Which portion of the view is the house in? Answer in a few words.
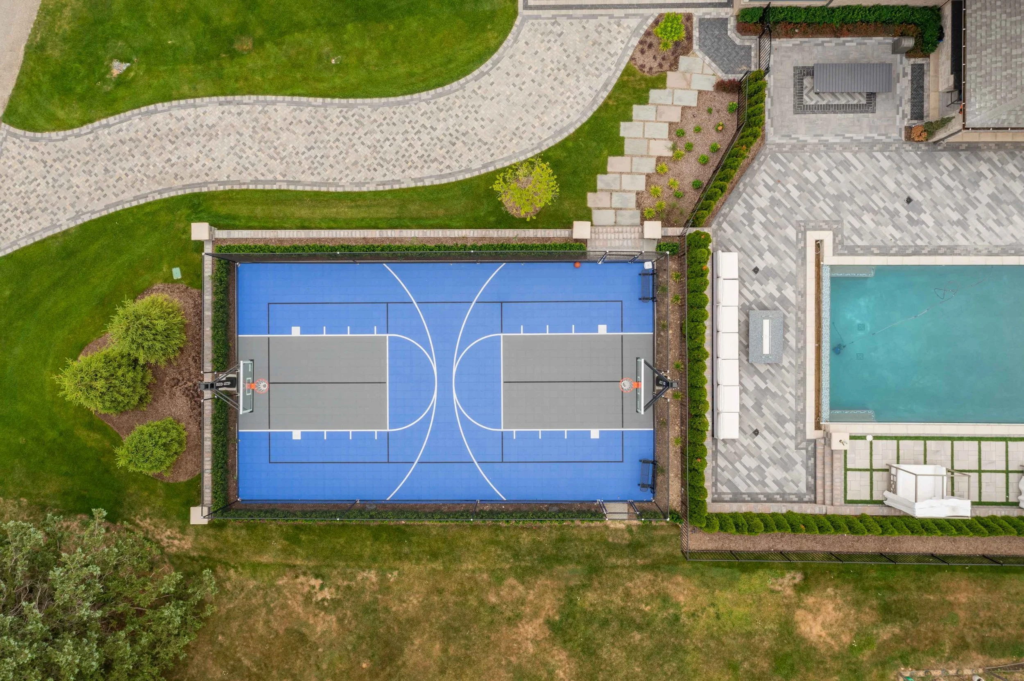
top right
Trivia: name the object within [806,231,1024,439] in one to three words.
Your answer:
swimming pool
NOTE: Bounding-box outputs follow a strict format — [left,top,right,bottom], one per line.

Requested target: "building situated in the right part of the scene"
[736,0,1024,142]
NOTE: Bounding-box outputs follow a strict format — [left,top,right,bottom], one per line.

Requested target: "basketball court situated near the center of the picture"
[237,263,653,504]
